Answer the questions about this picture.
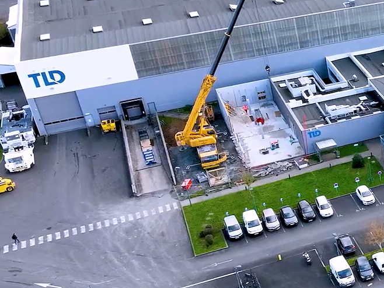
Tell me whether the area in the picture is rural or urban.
urban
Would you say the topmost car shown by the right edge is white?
Yes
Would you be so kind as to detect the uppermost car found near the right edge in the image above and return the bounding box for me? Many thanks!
[357,186,377,206]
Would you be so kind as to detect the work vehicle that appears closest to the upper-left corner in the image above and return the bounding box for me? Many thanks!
[0,100,33,145]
